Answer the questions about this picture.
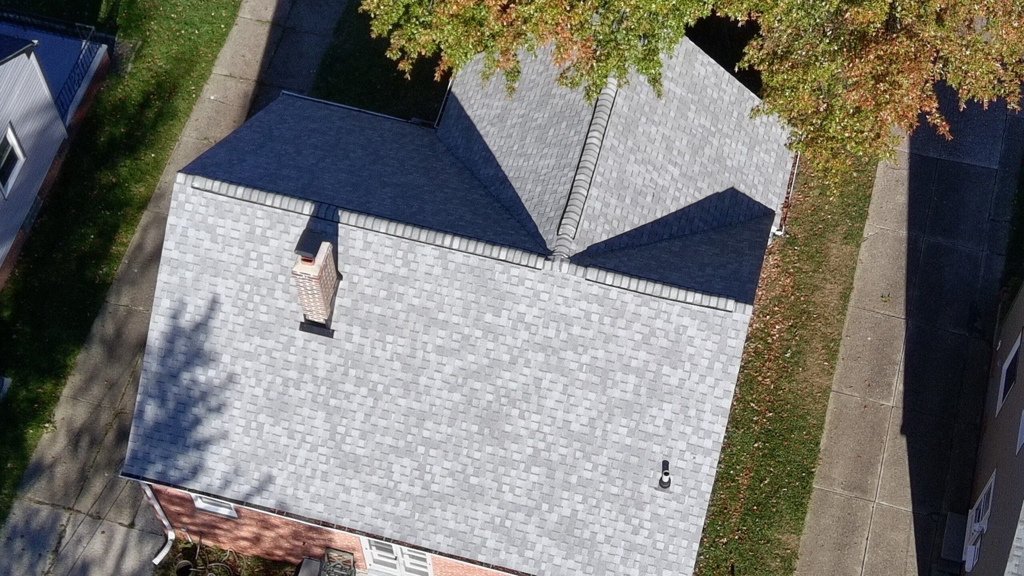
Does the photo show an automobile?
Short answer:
No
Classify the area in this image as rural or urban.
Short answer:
urban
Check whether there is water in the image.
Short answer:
No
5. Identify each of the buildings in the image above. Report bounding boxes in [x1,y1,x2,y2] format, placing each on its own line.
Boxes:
[940,276,1024,576]
[124,5,802,576]
[0,1,114,287]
